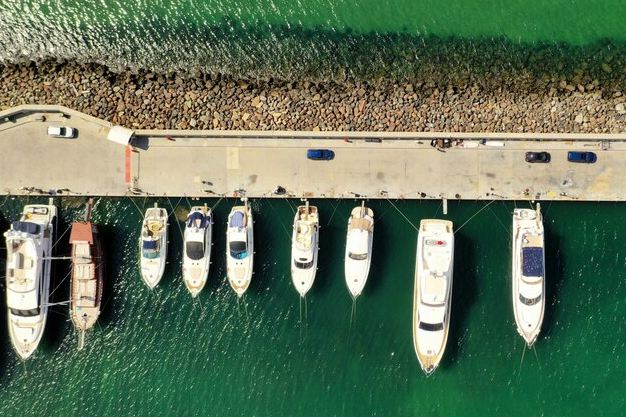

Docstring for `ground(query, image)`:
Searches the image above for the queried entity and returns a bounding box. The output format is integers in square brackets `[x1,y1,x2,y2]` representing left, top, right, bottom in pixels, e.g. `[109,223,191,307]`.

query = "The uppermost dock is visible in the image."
[0,114,626,202]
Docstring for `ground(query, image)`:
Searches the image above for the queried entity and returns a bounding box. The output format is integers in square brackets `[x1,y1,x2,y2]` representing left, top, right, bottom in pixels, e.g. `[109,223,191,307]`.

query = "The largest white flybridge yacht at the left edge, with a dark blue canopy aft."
[3,197,57,362]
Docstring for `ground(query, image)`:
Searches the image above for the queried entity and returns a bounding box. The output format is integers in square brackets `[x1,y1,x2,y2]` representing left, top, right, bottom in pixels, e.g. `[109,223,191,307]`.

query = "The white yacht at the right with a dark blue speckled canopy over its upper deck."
[510,203,550,350]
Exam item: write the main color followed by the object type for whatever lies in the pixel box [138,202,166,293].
white boat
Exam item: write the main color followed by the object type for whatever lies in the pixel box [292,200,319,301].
white boat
